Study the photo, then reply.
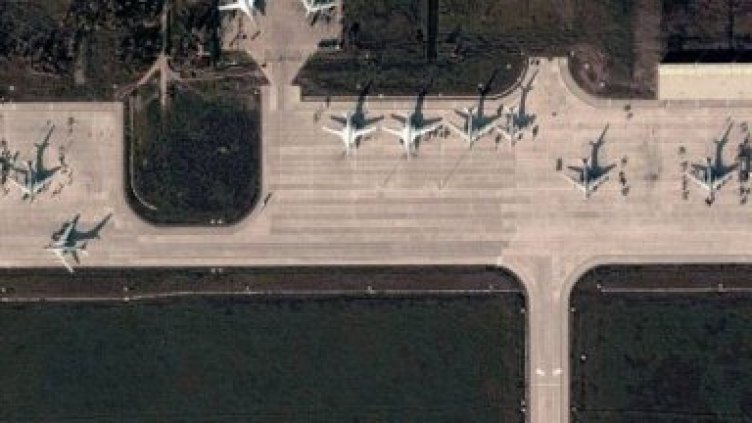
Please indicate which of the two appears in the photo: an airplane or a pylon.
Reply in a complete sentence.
There is an airplane in the scene.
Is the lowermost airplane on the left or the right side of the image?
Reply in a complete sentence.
The lowermost airplane sits on the left side.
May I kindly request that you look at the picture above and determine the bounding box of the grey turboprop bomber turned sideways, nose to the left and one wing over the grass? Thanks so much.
[44,224,87,270]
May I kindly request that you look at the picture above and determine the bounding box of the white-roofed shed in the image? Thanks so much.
[658,63,752,99]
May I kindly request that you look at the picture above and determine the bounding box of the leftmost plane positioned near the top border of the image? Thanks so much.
[215,0,253,24]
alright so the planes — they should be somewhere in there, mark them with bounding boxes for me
[446,105,496,150]
[563,156,610,198]
[215,0,253,24]
[8,156,54,199]
[44,224,87,270]
[322,106,377,157]
[687,155,734,200]
[302,0,339,18]
[382,108,437,159]
[496,107,529,148]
